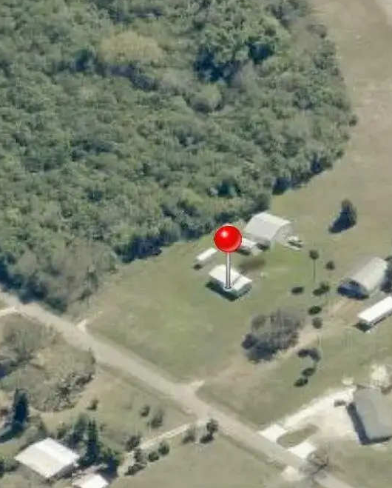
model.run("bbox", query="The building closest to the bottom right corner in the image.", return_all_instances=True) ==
[348,391,392,449]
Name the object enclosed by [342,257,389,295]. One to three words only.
building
